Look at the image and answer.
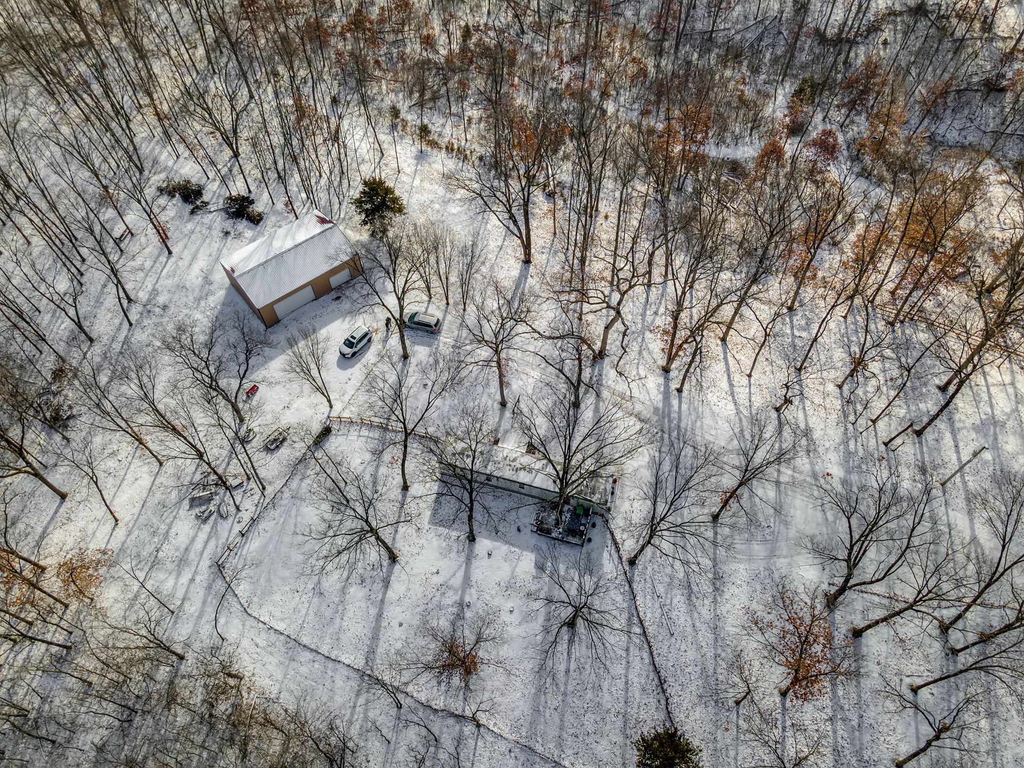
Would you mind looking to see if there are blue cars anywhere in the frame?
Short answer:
No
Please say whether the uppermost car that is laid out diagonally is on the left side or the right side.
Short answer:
left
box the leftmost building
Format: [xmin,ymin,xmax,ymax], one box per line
[213,213,364,328]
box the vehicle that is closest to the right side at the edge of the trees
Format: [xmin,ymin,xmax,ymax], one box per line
[401,311,440,333]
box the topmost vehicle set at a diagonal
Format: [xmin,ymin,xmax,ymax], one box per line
[339,325,373,357]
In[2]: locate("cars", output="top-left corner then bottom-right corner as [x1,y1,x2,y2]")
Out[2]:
[339,325,373,357]
[401,311,440,333]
